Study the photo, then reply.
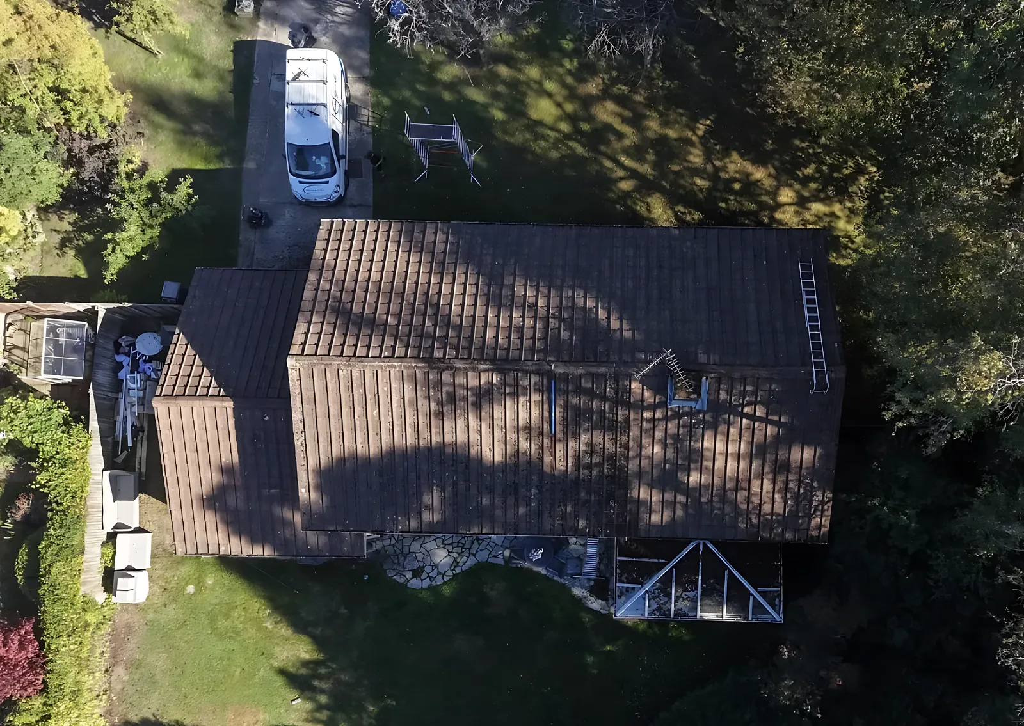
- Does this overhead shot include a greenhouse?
Yes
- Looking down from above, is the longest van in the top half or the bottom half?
top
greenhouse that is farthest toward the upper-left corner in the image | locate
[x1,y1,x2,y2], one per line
[45,318,98,385]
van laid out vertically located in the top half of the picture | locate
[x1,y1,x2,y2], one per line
[275,50,353,211]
